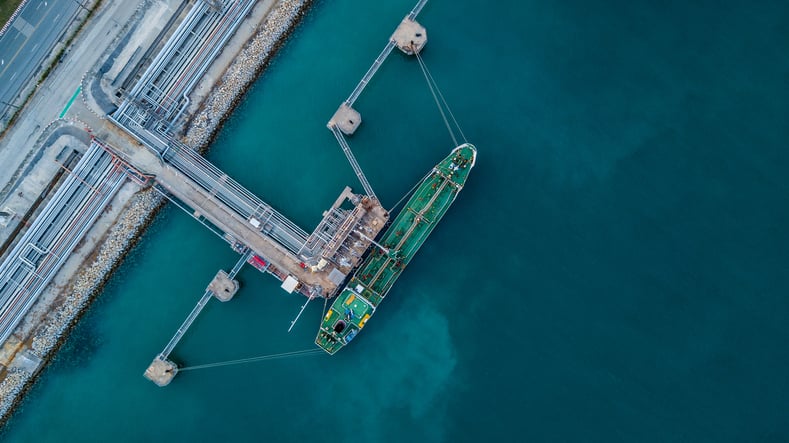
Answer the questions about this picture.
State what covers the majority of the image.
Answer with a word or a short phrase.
water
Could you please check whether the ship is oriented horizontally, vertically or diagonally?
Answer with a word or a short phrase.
diagonally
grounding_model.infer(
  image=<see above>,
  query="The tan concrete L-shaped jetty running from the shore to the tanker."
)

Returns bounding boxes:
[146,143,389,299]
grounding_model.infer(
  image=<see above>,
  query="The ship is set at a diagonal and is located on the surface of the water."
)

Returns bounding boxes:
[314,142,478,357]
